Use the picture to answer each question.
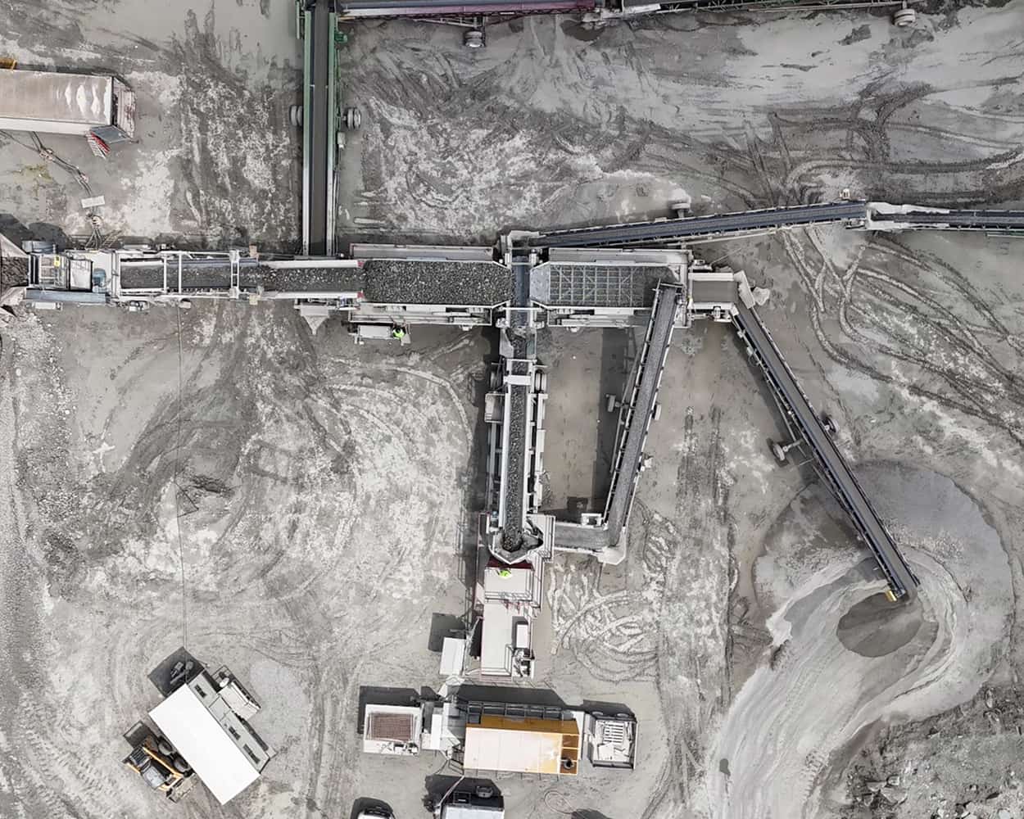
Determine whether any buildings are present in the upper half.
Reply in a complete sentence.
No, no building can be made out in the upper half.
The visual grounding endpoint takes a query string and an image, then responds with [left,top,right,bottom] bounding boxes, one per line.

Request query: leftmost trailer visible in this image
[0,71,139,140]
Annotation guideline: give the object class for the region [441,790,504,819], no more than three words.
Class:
van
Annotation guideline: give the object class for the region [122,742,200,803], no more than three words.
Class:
work vehicle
